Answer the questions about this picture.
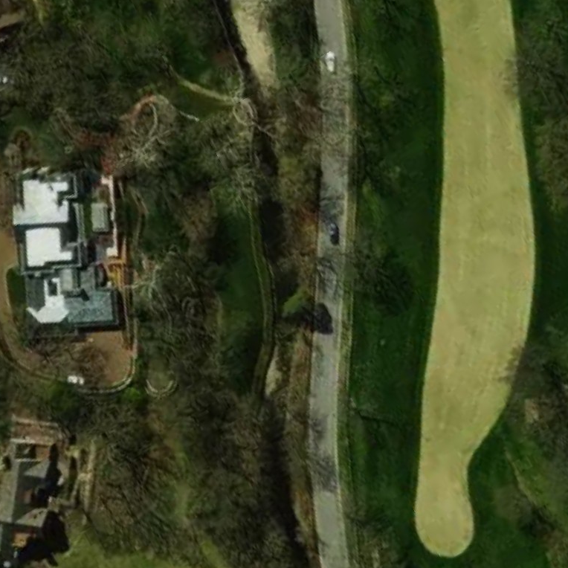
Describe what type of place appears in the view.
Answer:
golf course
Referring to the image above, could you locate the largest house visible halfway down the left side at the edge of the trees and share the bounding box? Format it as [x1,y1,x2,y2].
[14,175,120,336]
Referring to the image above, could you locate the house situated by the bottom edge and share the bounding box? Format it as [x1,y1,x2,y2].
[0,458,51,561]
